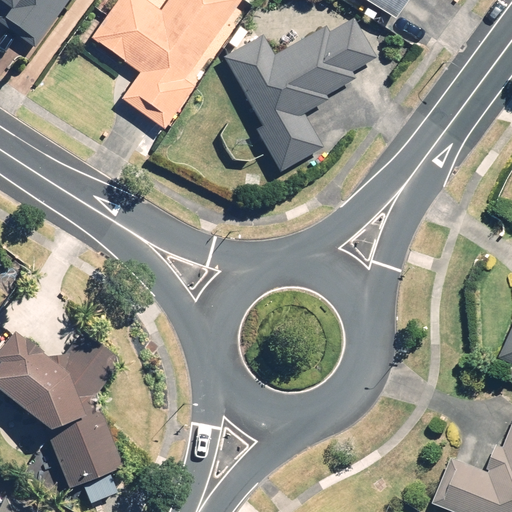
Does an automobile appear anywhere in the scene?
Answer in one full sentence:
Yes, there's an automobile here.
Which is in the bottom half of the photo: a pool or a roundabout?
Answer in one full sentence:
What appears in the bottom half of the photo is a roundabout.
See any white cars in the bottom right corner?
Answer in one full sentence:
No, I can find no white car in the bottom right corner.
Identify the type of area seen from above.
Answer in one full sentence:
The area seen from above is a residential area.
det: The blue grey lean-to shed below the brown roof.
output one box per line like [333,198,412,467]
[84,475,118,504]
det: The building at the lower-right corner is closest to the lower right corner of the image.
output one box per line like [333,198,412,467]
[432,423,512,512]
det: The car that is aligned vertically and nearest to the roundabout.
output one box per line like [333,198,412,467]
[195,424,212,458]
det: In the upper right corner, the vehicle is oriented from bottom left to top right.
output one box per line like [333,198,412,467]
[483,0,511,25]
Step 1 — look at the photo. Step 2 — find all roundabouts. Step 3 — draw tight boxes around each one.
[239,287,344,392]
